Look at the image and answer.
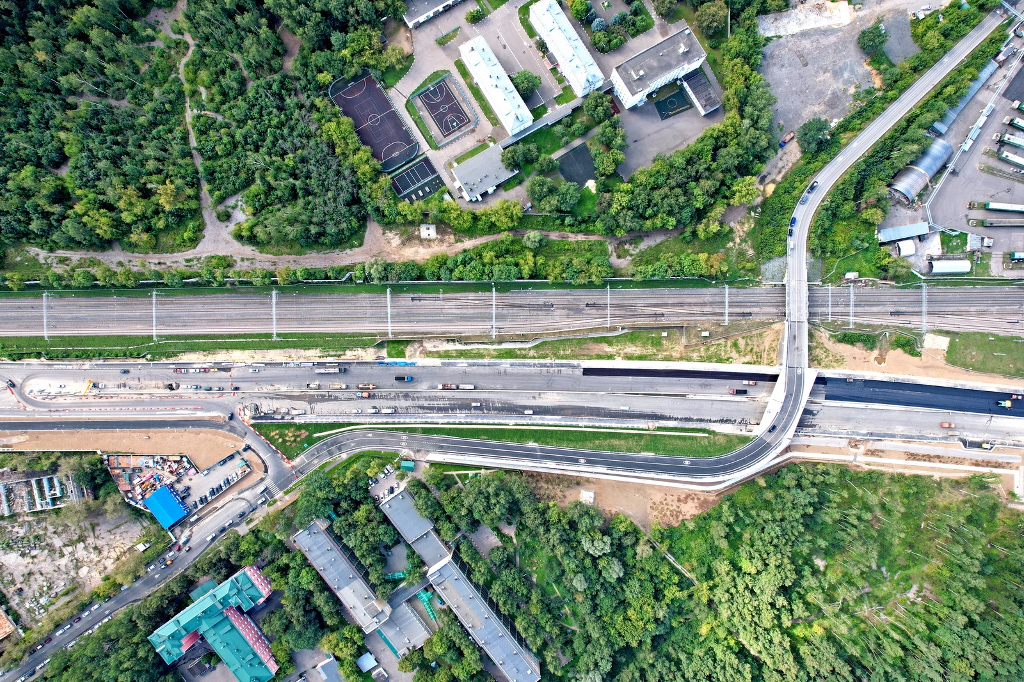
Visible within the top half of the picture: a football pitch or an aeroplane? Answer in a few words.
football pitch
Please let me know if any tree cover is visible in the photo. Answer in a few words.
Yes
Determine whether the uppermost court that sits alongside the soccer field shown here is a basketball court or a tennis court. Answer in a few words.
basketball court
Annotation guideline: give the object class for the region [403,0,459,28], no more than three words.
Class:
building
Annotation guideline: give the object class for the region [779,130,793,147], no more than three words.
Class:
vehicle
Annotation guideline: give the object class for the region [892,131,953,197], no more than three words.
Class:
hangar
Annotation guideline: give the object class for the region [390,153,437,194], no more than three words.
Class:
sports court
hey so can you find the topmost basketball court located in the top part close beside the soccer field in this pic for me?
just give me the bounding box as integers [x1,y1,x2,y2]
[409,71,475,146]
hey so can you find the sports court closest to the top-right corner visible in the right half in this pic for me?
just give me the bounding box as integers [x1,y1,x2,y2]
[656,90,694,120]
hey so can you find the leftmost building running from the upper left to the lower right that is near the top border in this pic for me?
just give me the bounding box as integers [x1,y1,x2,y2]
[458,34,533,136]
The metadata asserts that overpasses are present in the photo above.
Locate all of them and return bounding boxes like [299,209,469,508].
[744,279,823,461]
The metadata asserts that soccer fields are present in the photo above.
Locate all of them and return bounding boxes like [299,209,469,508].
[327,65,418,170]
